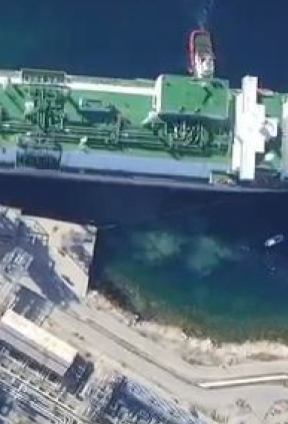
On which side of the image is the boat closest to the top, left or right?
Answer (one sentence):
It is on the right.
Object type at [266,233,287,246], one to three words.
boat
